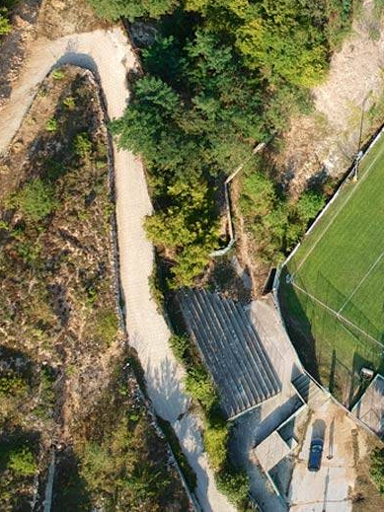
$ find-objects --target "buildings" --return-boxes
[254,429,291,472]
[351,374,384,437]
